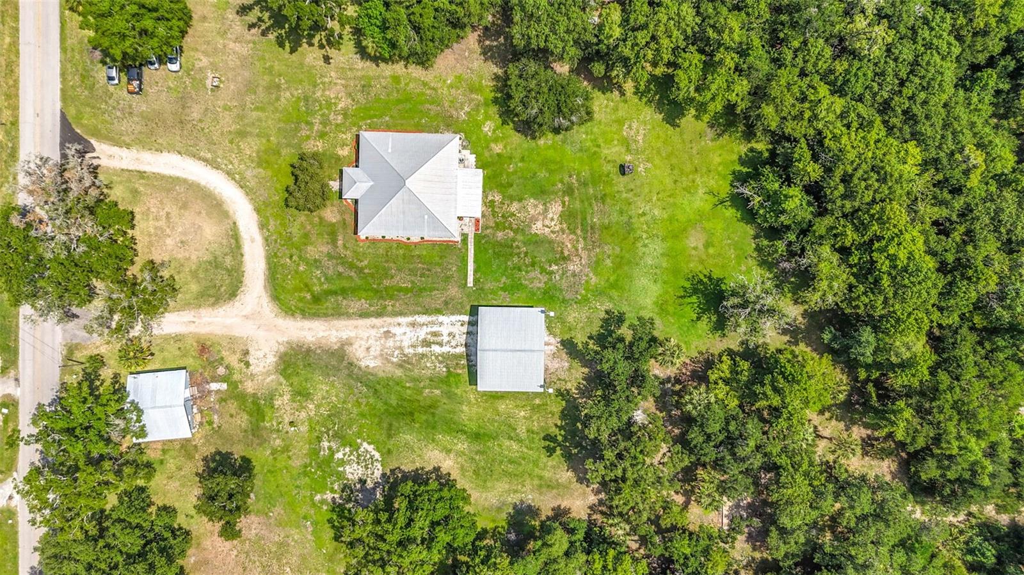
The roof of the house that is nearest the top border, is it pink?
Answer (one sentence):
No, from above the roof of the house that is nearest the top border looks white.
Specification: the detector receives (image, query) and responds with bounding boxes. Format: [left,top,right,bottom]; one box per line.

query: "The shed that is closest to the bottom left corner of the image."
[124,367,199,443]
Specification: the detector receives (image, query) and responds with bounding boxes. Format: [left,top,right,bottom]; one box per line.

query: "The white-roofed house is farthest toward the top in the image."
[342,131,484,238]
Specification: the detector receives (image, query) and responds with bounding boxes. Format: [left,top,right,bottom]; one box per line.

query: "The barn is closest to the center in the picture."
[477,307,545,392]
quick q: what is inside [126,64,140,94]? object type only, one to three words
vehicle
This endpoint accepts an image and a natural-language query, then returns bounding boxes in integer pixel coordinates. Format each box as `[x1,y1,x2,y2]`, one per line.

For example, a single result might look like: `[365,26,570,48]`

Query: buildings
[124,367,199,443]
[477,307,545,392]
[342,131,484,238]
